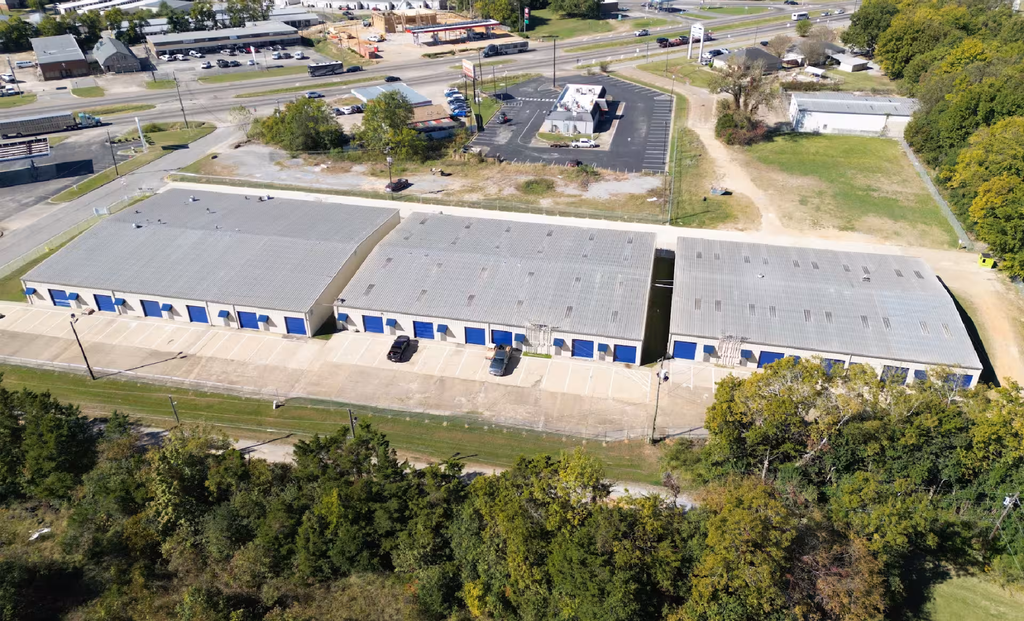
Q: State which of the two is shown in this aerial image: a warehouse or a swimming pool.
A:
warehouse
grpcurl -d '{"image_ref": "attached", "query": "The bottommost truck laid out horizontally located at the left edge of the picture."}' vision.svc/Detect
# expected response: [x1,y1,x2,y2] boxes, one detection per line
[0,114,102,137]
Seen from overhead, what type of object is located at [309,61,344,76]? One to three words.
camper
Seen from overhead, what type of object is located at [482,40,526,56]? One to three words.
vehicle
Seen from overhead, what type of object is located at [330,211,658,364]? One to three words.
warehouse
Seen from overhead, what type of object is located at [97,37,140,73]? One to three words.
barn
